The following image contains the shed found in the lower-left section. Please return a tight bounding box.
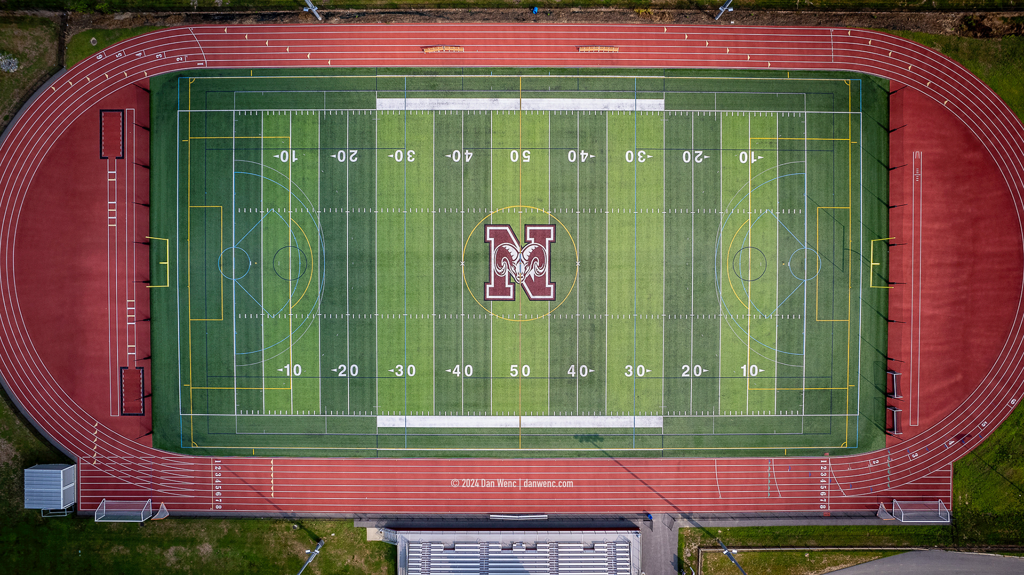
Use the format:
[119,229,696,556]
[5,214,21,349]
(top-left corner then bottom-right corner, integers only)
[24,465,76,509]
